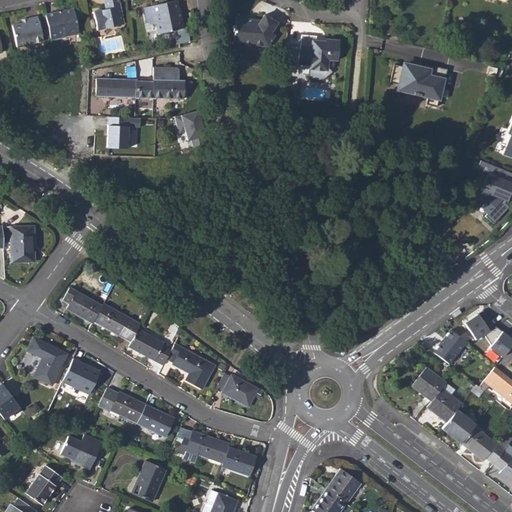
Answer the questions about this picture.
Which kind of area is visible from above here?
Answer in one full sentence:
It's a residential area.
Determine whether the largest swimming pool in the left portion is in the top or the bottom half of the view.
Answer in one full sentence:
Seen from above, the largest swimming pool in the left portion lies in the top half of the view.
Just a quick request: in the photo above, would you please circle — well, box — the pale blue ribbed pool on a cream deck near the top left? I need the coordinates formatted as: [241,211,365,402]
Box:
[100,35,125,55]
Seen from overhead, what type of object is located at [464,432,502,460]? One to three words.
house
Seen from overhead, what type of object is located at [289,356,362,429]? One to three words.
roundabout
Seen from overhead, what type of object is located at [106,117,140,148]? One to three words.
house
